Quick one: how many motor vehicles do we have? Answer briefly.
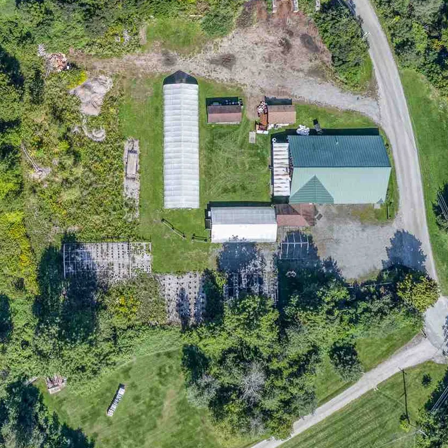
0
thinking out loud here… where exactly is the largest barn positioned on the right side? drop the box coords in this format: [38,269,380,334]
[287,135,391,204]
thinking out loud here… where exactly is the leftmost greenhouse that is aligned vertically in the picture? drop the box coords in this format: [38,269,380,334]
[163,82,199,208]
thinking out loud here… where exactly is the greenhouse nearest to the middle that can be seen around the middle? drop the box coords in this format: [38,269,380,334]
[206,207,277,242]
